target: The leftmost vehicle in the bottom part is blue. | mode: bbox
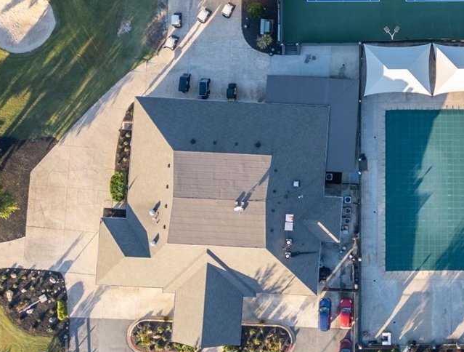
[317,299,331,334]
